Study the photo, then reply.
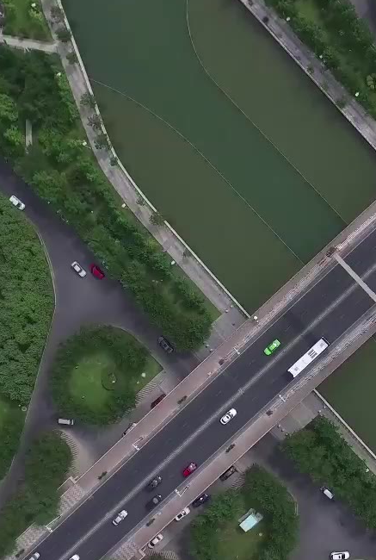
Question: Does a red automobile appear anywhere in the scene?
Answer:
Yes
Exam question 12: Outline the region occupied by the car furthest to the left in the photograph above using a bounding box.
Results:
[9,194,27,211]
